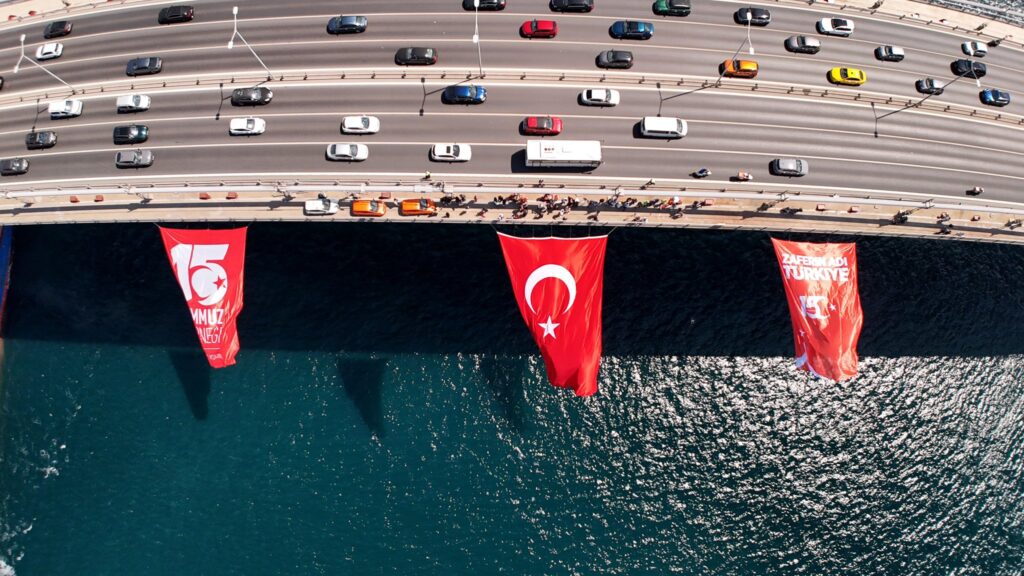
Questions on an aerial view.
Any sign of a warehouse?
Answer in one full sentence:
No, no warehouse can be seen from above.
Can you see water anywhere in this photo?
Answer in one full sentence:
Yes, there is water in the image.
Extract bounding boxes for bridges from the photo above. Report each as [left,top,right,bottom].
[0,0,1024,245]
